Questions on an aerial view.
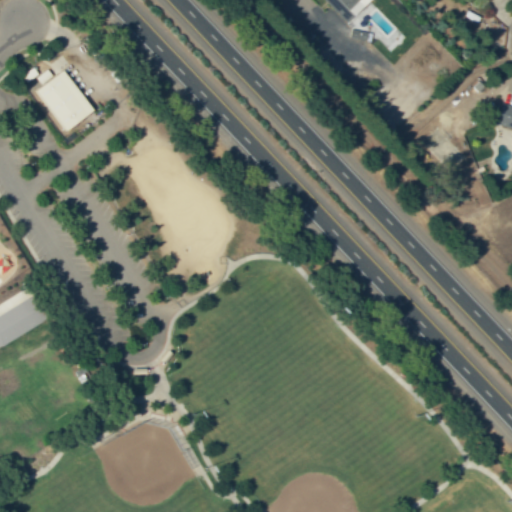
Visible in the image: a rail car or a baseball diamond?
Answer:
baseball diamond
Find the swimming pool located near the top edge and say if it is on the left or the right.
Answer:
right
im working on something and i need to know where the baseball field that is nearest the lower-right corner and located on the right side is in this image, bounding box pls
[164,258,464,512]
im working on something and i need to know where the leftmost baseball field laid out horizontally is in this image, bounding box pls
[0,416,245,512]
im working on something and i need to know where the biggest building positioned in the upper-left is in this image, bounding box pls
[35,71,95,132]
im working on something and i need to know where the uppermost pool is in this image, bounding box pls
[373,12,394,35]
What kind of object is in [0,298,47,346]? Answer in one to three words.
building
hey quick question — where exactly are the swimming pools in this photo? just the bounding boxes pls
[495,144,512,171]
[373,12,394,35]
